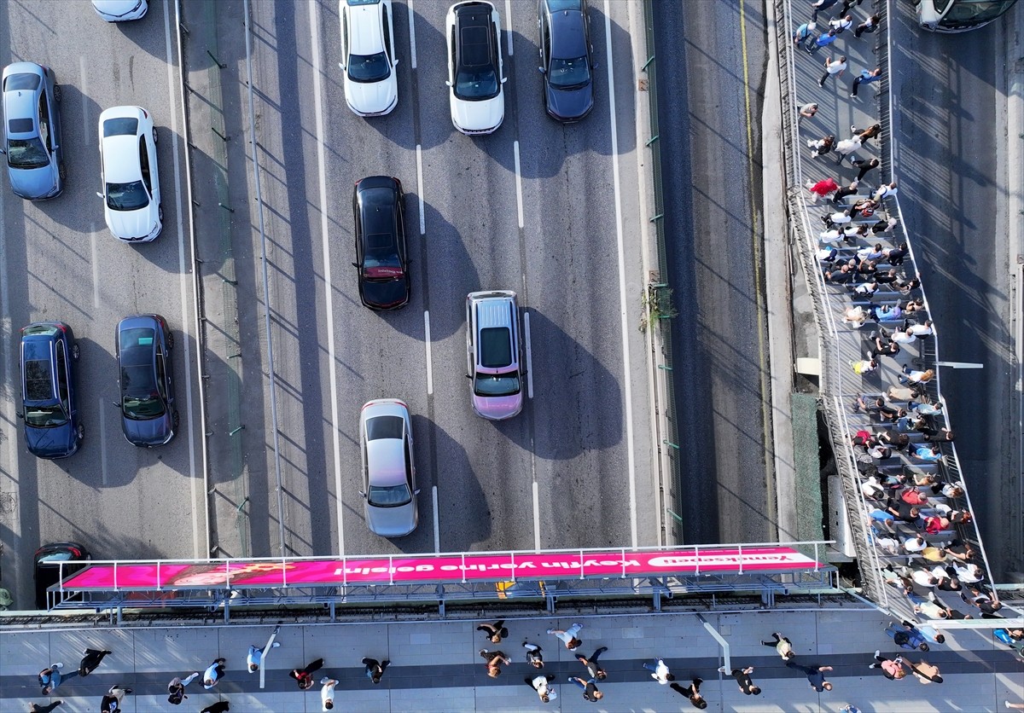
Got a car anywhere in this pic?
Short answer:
Yes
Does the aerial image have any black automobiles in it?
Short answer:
Yes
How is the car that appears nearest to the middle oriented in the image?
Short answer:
vertically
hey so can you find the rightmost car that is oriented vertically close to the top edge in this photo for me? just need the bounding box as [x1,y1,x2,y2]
[536,0,600,127]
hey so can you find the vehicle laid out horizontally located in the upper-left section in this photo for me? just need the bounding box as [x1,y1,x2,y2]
[94,0,153,26]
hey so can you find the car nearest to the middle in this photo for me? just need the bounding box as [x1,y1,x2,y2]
[464,290,529,420]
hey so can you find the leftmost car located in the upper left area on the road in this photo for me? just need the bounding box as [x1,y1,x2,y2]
[0,63,70,200]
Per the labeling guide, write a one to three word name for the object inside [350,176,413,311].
car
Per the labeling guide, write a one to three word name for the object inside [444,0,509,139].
car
